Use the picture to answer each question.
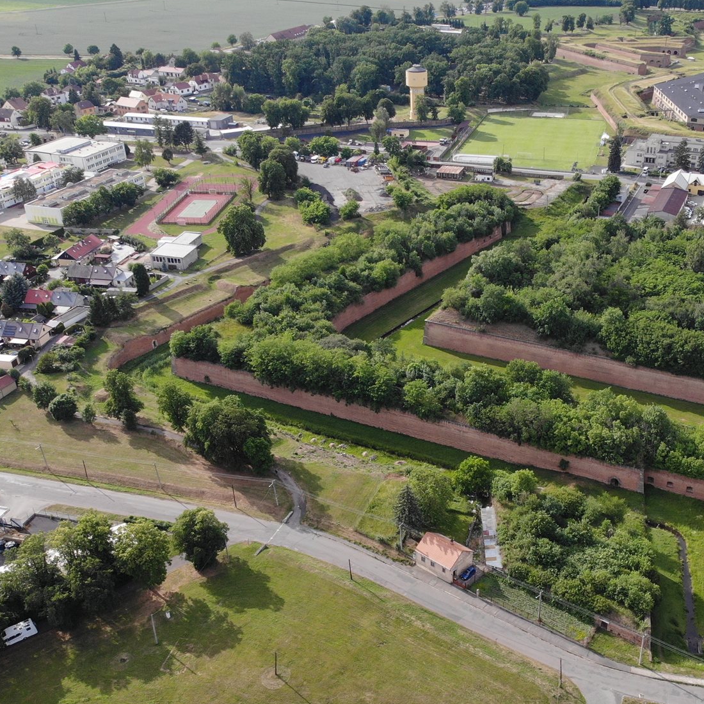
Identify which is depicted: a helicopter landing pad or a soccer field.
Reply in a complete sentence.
The one in the frame is a soccer field.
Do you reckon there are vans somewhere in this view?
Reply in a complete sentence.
Yes, a van appears in the view.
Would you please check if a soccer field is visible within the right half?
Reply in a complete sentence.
Yes, within the right half there is a soccer field.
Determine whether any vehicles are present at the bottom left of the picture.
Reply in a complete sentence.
Yes, you'll find a vehicle at the bottom left of the picture.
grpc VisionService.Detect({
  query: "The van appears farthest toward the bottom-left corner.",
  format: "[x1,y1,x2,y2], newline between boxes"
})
[1,618,43,646]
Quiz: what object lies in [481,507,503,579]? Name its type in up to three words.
shed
